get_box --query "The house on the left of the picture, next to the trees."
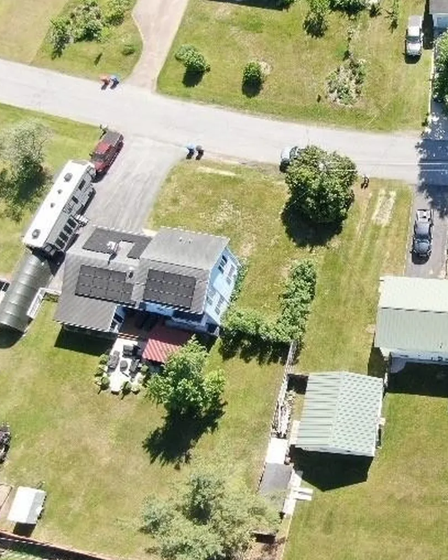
[56,227,241,363]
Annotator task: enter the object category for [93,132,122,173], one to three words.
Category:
truck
